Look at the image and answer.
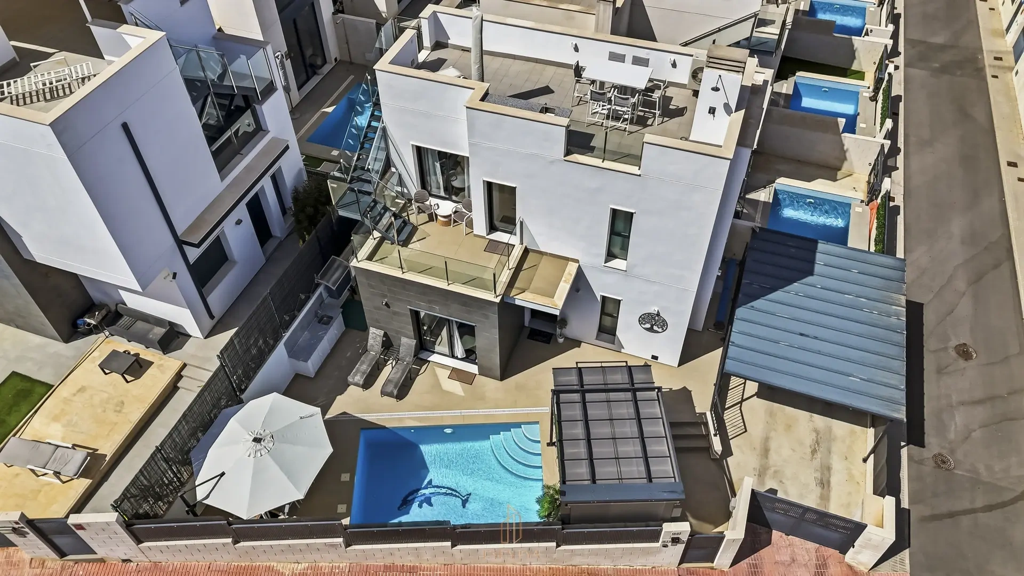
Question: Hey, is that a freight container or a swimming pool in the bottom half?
swimming pool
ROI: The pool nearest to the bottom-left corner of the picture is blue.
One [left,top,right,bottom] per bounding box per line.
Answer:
[350,423,545,536]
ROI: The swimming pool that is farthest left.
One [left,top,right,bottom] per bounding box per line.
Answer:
[297,77,386,150]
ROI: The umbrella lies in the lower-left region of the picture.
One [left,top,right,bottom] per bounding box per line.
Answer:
[182,392,335,519]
